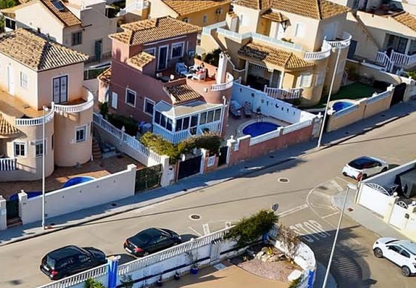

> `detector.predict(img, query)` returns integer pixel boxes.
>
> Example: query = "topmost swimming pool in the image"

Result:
[325,99,358,115]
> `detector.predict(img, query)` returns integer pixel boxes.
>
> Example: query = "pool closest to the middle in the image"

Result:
[237,120,282,138]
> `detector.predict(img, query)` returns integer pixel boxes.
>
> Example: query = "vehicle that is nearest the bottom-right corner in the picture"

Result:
[371,238,416,277]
